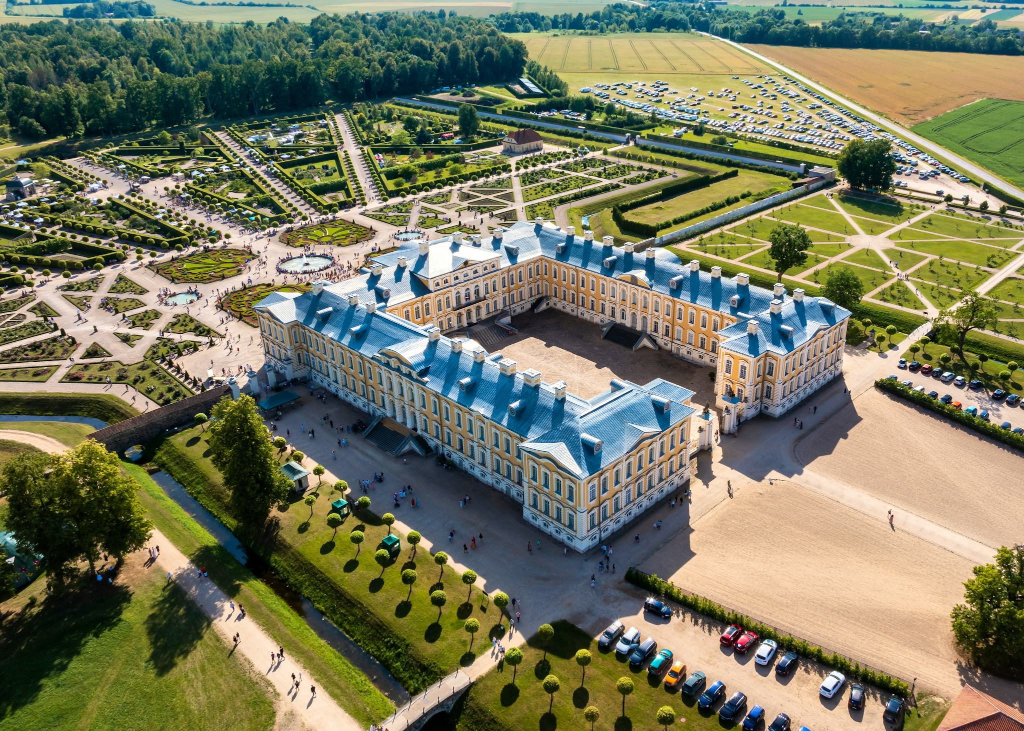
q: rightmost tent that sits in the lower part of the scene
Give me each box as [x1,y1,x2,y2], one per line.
[381,534,403,559]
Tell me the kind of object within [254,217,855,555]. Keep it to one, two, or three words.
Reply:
building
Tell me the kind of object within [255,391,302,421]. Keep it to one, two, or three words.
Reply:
tent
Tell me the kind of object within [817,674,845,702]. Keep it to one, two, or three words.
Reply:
car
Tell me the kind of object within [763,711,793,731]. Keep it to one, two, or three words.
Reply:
car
